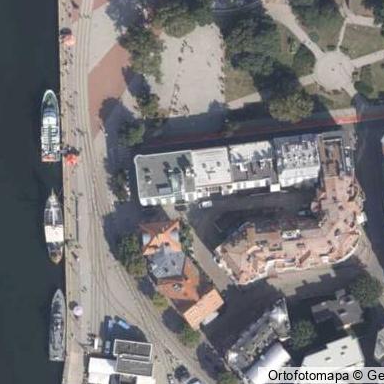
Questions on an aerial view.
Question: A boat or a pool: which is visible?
boat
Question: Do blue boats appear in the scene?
No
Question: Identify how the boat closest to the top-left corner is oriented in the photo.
up and down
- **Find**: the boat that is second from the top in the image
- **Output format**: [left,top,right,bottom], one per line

[45,184,67,265]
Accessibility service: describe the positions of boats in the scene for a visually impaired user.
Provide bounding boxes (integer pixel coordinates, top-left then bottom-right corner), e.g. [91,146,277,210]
[50,288,70,361]
[45,184,67,265]
[41,90,64,163]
